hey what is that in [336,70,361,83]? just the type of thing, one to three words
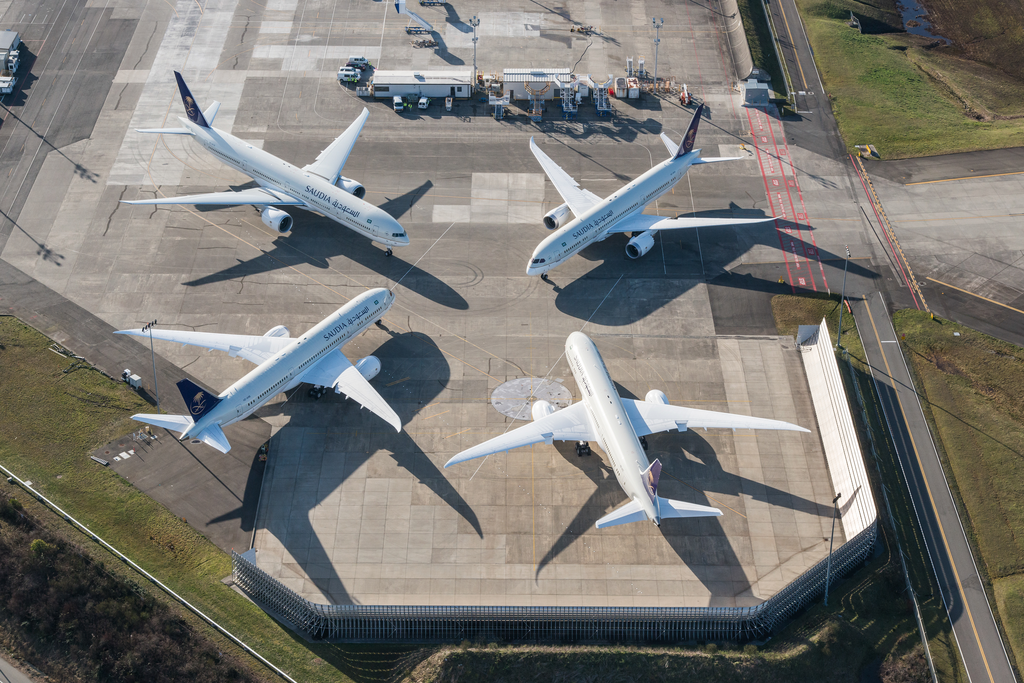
vehicle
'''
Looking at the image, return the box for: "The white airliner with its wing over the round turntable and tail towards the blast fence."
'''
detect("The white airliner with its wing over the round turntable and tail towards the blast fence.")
[445,330,810,529]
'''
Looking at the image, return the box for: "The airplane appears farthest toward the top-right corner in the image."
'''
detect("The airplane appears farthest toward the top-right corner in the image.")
[525,103,781,280]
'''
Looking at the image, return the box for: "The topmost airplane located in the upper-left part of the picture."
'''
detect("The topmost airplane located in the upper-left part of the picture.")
[119,71,410,254]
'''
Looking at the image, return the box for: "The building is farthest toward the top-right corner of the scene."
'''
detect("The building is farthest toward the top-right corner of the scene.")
[740,76,770,102]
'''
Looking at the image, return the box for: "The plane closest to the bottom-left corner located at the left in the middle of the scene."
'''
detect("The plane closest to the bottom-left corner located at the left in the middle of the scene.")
[114,287,401,454]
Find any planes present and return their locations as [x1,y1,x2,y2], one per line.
[114,287,401,454]
[525,103,781,280]
[119,71,410,254]
[445,330,810,529]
